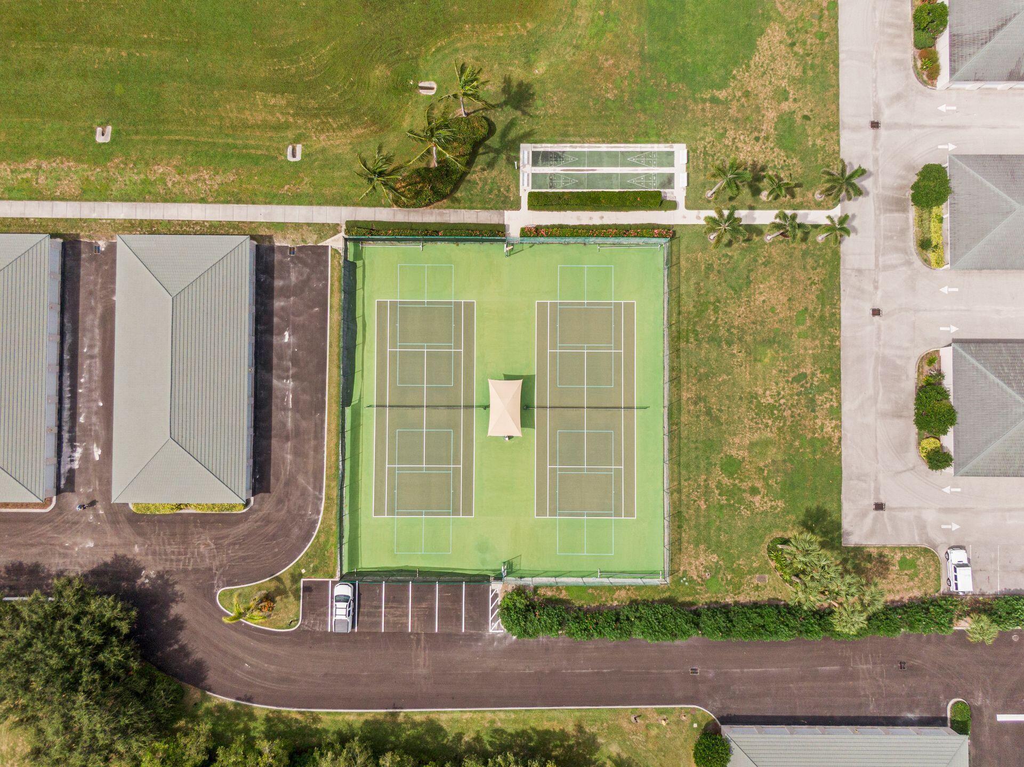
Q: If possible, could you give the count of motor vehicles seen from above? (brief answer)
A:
2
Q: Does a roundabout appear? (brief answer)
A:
No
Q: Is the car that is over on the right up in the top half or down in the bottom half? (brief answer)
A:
bottom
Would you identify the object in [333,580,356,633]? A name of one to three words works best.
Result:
truck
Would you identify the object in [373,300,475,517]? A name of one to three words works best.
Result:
tennis court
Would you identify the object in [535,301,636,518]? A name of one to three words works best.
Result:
tennis court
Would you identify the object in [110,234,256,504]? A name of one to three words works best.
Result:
building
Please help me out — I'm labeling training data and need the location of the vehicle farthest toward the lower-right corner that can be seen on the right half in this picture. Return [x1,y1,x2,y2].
[946,548,974,595]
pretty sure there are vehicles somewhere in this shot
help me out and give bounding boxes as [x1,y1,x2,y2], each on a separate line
[333,580,356,633]
[946,548,974,595]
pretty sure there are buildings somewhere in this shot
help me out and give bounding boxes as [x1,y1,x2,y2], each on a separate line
[722,726,969,767]
[939,342,1024,477]
[0,233,64,503]
[110,234,256,504]
[936,0,1024,89]
[938,154,1024,271]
